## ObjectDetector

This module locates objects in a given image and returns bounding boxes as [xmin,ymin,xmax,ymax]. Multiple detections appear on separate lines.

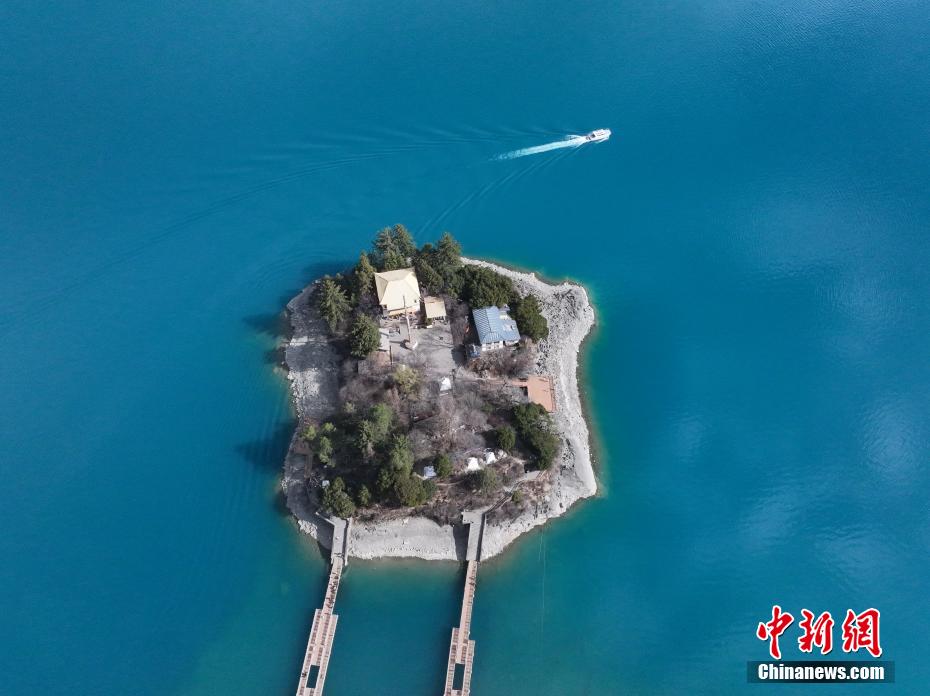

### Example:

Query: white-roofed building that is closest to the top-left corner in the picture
[376,267,421,323]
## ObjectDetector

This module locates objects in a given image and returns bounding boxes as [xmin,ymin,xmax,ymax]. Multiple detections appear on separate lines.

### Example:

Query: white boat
[584,129,612,143]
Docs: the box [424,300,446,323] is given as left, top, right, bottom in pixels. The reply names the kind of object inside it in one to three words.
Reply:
building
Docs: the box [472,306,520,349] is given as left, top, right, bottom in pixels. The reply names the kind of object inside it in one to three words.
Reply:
house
